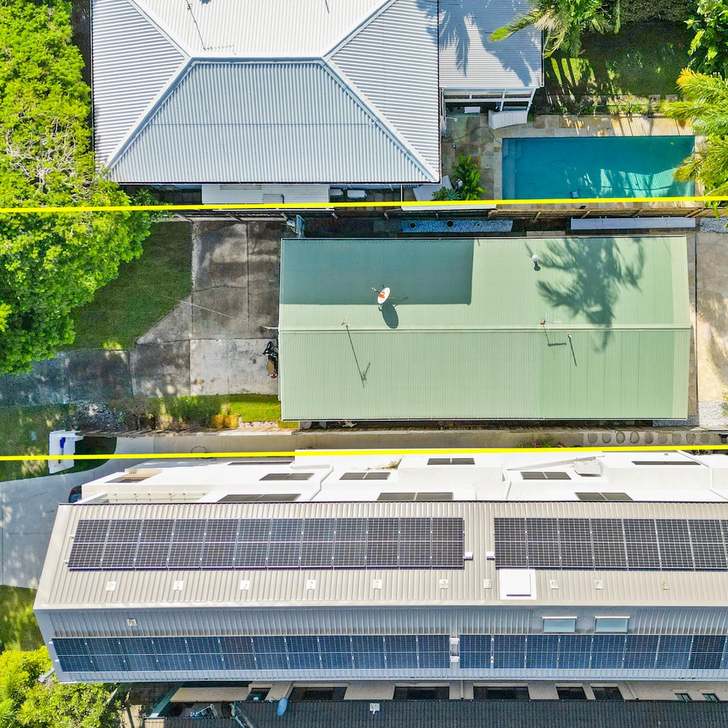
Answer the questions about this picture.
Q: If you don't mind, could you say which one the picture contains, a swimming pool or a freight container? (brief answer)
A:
swimming pool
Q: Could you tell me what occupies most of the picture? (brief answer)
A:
buildings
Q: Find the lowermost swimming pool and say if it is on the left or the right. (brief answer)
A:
right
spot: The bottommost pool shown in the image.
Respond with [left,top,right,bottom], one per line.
[502,137,695,200]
